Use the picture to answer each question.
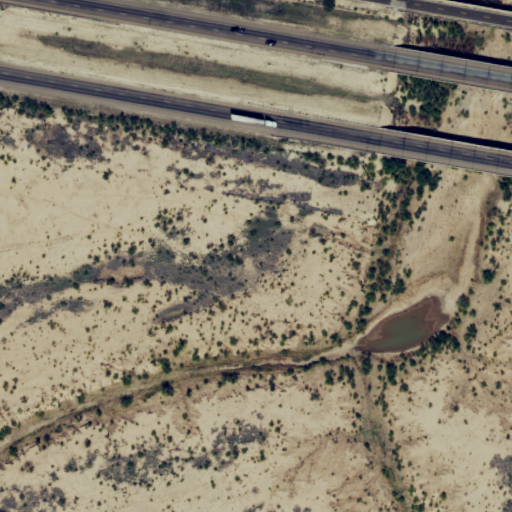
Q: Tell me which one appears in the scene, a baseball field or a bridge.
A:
bridge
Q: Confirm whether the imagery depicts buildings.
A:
No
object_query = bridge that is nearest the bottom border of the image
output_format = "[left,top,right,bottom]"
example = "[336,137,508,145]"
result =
[379,128,512,178]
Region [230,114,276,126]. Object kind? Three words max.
vehicle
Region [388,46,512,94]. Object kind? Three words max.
bridge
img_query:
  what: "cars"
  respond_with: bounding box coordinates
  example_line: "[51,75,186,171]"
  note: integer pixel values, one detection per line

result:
[266,40,276,46]
[230,27,240,32]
